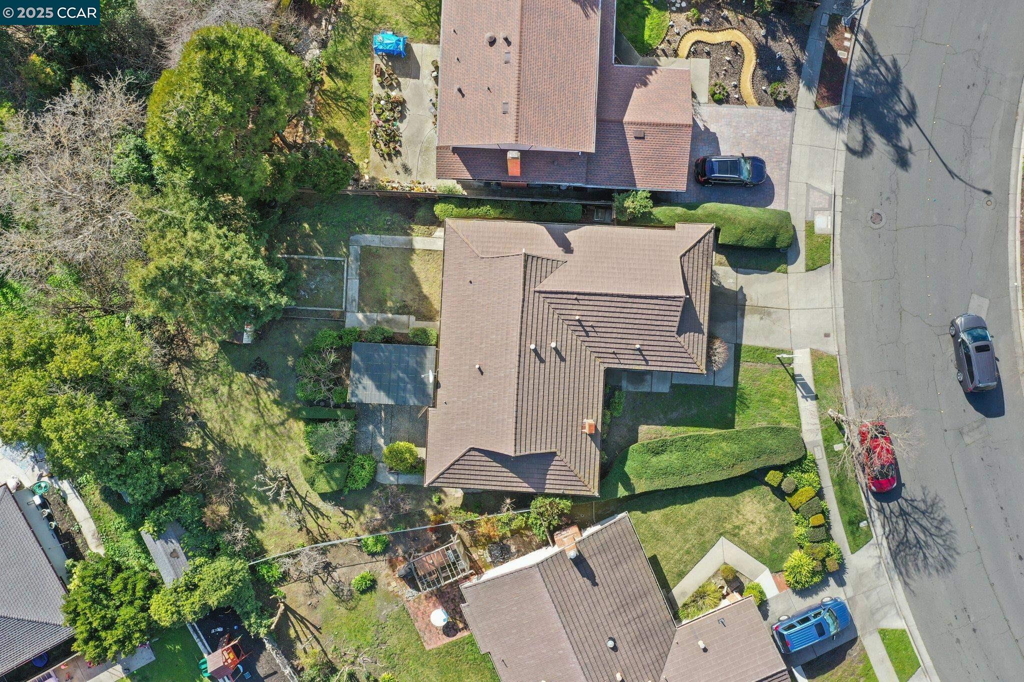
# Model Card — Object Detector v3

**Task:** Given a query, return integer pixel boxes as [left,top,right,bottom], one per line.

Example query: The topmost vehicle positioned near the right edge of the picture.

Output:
[950,311,1005,392]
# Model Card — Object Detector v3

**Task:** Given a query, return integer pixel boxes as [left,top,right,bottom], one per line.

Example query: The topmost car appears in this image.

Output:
[693,148,769,186]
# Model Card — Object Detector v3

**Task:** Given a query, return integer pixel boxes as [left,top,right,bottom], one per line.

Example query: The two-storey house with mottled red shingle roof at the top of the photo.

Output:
[436,0,695,191]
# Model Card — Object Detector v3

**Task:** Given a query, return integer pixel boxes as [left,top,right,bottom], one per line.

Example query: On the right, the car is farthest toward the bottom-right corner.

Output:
[771,598,855,659]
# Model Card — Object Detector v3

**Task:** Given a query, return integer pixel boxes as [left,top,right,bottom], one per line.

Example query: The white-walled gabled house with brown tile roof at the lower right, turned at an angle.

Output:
[458,508,797,682]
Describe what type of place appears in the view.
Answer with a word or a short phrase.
residential area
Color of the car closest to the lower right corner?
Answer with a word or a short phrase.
blue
